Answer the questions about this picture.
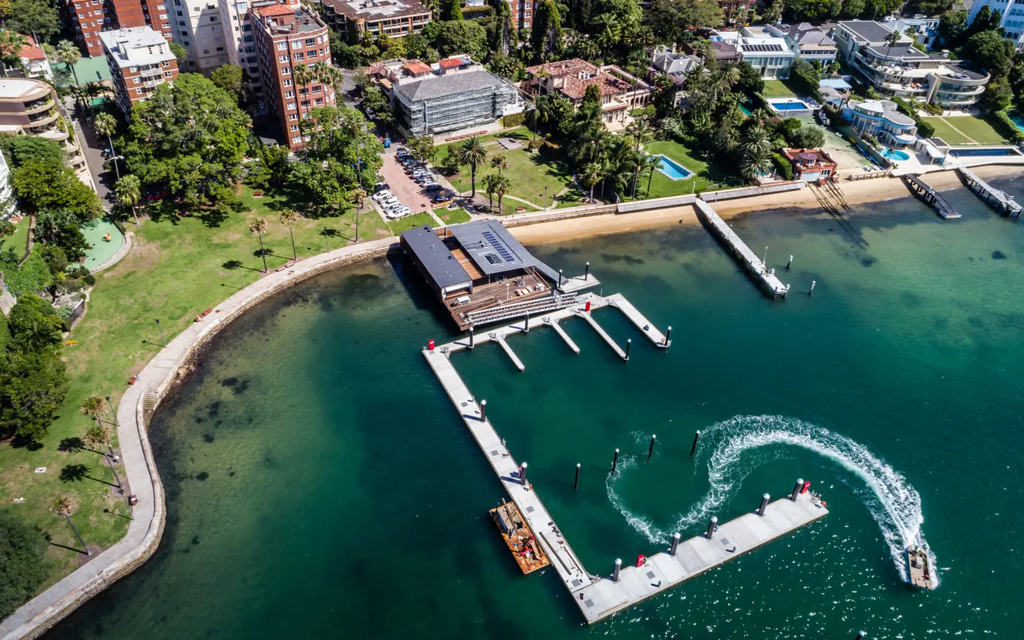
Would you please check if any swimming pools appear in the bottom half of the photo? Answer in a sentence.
No, I can find no swimming pool in the bottom half of the photo.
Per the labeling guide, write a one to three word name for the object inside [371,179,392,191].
vehicle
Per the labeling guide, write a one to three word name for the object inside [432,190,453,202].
vehicle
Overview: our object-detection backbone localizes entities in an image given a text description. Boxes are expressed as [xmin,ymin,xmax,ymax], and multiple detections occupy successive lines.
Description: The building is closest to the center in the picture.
[400,220,552,331]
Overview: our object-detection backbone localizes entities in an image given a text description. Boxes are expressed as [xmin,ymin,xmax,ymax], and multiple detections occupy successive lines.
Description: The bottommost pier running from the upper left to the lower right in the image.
[421,348,597,598]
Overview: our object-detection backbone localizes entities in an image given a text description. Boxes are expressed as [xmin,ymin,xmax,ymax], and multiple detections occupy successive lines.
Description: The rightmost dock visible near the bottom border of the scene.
[572,492,828,626]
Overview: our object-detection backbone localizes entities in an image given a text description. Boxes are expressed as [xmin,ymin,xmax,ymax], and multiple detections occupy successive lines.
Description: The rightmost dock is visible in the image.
[958,167,1024,220]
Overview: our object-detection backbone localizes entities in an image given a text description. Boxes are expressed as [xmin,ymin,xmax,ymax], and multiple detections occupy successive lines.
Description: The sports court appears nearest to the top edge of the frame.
[801,121,874,175]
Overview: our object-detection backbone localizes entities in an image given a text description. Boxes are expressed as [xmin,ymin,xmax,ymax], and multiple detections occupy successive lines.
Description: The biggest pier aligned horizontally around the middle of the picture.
[434,293,629,375]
